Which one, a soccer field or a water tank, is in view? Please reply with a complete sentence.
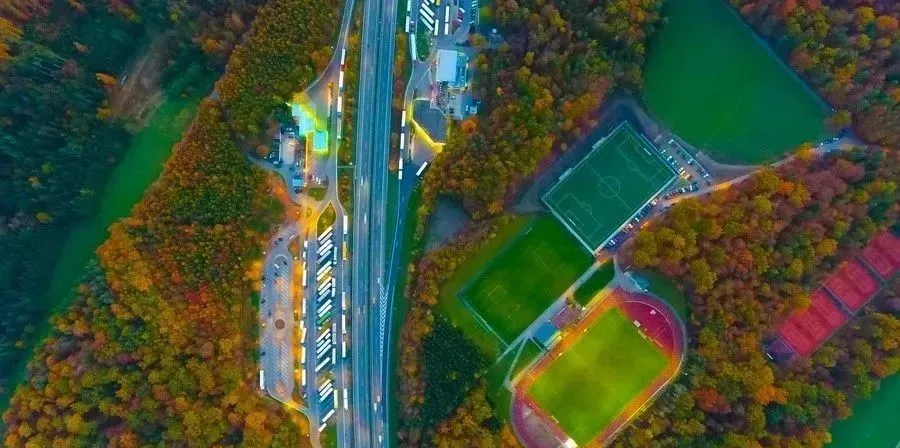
It is a soccer field that can be seen here.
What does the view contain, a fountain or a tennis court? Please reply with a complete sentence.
The image shows a tennis court.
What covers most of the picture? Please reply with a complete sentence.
The largest share of the image is taken up by trees.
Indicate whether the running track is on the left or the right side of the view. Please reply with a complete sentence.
You can find the running track on the right side of the picture.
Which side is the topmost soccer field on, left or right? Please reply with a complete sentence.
The topmost soccer field is on the right side of the image.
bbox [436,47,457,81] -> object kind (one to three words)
building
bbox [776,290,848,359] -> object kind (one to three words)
tennis court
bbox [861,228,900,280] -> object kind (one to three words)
tennis court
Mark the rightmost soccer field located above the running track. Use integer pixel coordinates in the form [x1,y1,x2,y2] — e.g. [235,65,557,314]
[541,120,678,254]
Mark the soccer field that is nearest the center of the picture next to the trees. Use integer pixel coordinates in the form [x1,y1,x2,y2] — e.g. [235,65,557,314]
[458,213,593,348]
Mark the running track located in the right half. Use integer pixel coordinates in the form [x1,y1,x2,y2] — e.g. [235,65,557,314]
[511,290,688,448]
